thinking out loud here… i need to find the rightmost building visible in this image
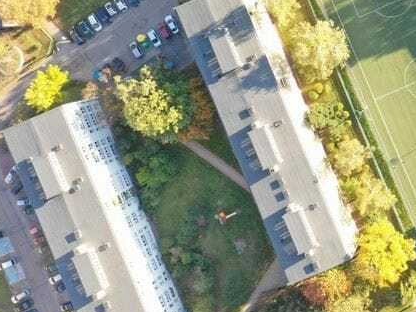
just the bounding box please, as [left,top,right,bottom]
[173,0,357,284]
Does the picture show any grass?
Yes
